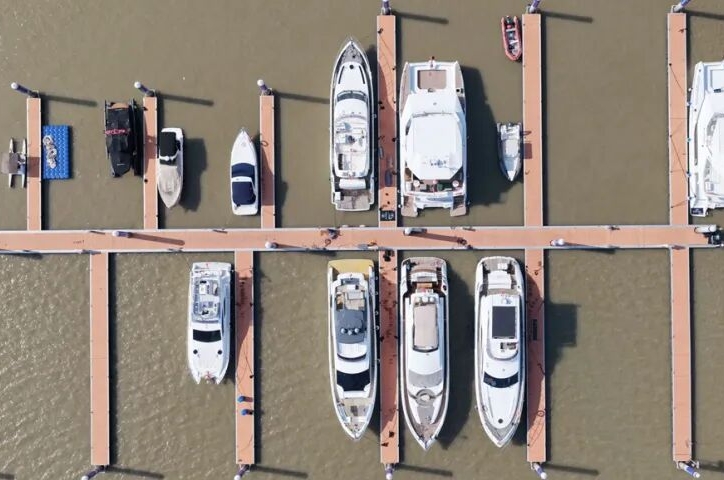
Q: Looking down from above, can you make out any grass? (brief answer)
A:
No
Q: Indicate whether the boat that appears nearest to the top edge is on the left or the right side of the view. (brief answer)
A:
right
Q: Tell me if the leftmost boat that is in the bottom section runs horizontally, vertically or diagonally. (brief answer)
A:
vertically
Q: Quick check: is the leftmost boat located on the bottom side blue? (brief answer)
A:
No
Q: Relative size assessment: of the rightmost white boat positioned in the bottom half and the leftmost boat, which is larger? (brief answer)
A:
the rightmost white boat positioned in the bottom half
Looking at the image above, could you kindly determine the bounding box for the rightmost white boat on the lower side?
[474,257,525,447]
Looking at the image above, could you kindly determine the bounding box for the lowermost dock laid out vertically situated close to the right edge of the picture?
[670,247,691,469]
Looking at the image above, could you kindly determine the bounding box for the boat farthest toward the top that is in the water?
[500,16,520,60]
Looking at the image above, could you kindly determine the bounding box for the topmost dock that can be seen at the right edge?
[666,4,689,226]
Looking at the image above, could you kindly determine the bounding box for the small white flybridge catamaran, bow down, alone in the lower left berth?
[190,262,233,385]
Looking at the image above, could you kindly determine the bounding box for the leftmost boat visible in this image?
[1,137,27,189]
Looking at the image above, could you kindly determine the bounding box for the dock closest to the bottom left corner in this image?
[90,252,110,474]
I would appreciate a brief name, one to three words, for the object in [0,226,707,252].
pier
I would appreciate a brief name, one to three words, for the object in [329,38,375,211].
boat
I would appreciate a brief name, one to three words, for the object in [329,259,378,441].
boat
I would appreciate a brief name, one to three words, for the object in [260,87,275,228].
pier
